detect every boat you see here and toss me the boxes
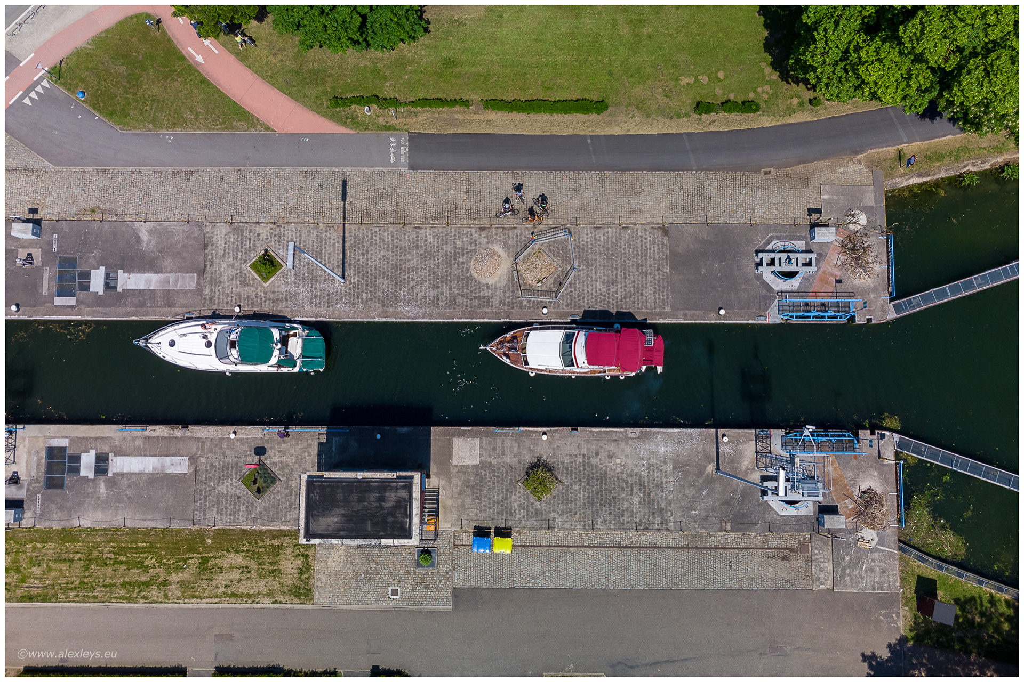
[133,318,327,376]
[480,321,664,380]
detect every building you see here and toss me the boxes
[917,594,956,626]
[297,467,426,545]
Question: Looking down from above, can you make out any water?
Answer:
Yes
